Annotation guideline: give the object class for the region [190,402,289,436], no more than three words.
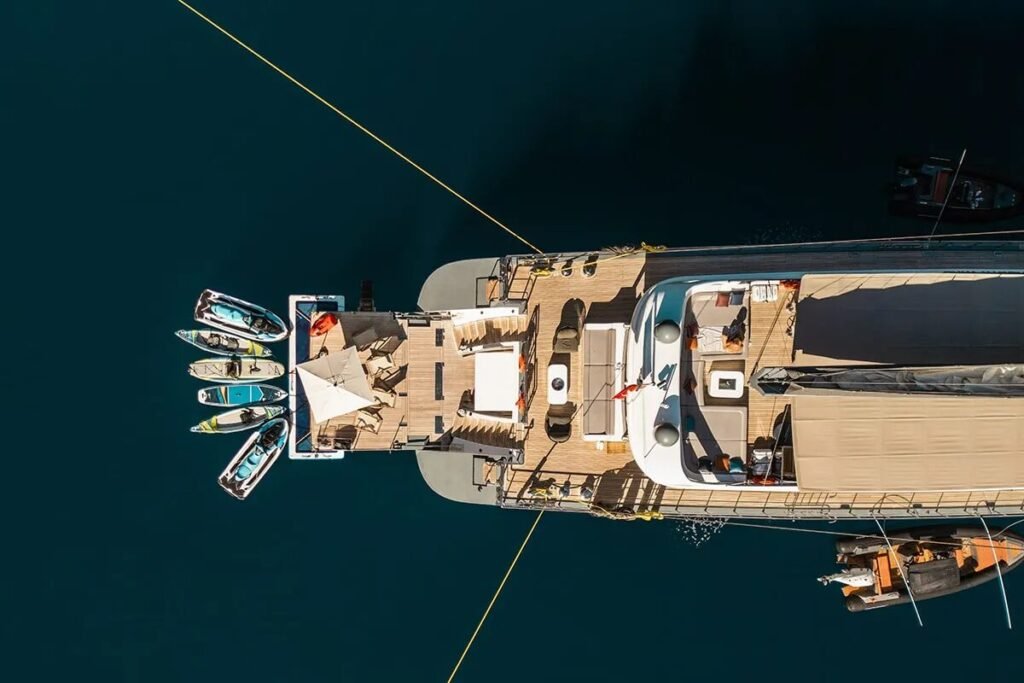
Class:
boat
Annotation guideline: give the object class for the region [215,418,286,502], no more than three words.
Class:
boat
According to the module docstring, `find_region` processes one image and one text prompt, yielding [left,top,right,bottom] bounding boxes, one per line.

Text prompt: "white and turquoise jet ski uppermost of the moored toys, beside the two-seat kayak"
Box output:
[195,286,284,343]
